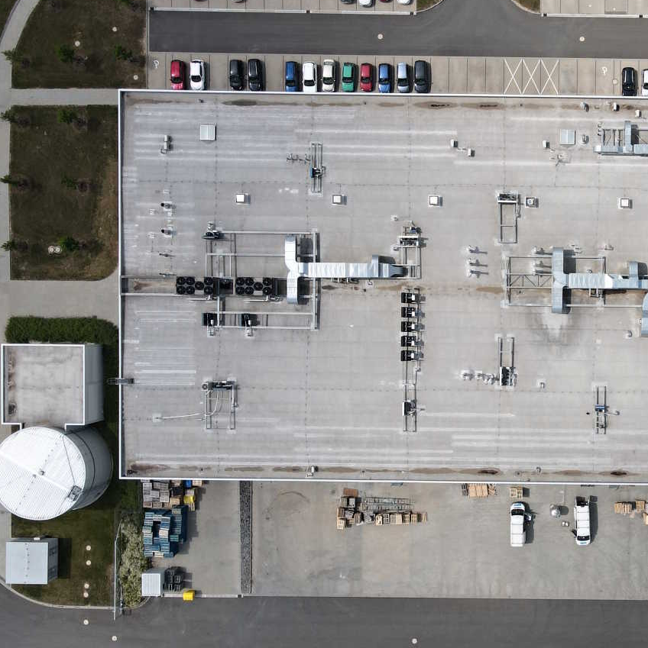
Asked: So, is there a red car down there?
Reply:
Yes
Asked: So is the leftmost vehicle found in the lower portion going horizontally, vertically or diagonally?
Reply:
vertically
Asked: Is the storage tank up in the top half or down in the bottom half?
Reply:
bottom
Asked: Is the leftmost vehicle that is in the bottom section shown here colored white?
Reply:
Yes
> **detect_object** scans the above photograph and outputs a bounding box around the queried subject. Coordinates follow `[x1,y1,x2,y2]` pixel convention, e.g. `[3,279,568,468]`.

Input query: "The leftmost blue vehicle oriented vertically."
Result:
[284,61,300,93]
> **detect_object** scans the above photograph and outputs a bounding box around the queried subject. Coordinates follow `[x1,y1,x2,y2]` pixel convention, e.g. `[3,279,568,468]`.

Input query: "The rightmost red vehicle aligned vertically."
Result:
[359,63,374,93]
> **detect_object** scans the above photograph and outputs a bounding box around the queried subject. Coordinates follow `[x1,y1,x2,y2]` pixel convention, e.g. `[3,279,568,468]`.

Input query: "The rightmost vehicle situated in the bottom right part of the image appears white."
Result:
[572,496,591,544]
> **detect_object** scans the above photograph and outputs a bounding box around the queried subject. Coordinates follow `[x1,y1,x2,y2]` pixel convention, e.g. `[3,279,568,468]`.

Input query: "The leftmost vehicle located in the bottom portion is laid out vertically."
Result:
[510,501,531,547]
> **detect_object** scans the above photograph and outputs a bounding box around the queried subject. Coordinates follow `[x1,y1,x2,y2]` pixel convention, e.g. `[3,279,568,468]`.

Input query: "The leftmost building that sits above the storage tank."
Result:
[1,345,105,430]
